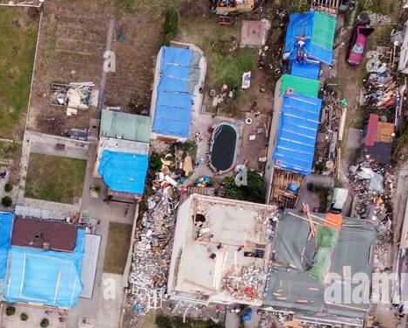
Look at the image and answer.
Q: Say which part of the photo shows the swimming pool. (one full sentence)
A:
The swimming pool is in the center part of the image.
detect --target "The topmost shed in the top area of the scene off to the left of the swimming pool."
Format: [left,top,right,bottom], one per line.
[149,47,200,141]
